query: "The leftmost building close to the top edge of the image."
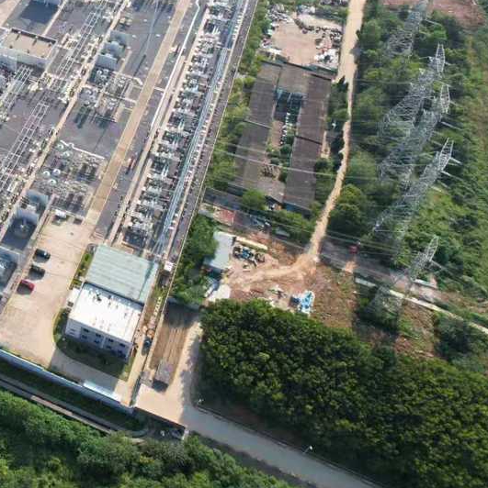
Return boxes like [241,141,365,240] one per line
[0,16,62,64]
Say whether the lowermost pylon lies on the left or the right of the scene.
right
